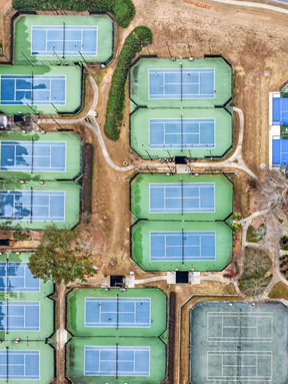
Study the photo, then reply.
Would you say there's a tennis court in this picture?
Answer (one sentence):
Yes, the image includes a tennis court.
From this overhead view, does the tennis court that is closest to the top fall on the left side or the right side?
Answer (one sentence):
You can find the tennis court that is closest to the top on the left side of the picture.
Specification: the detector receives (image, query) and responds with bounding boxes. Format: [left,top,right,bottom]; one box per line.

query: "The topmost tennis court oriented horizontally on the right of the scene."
[130,57,231,106]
